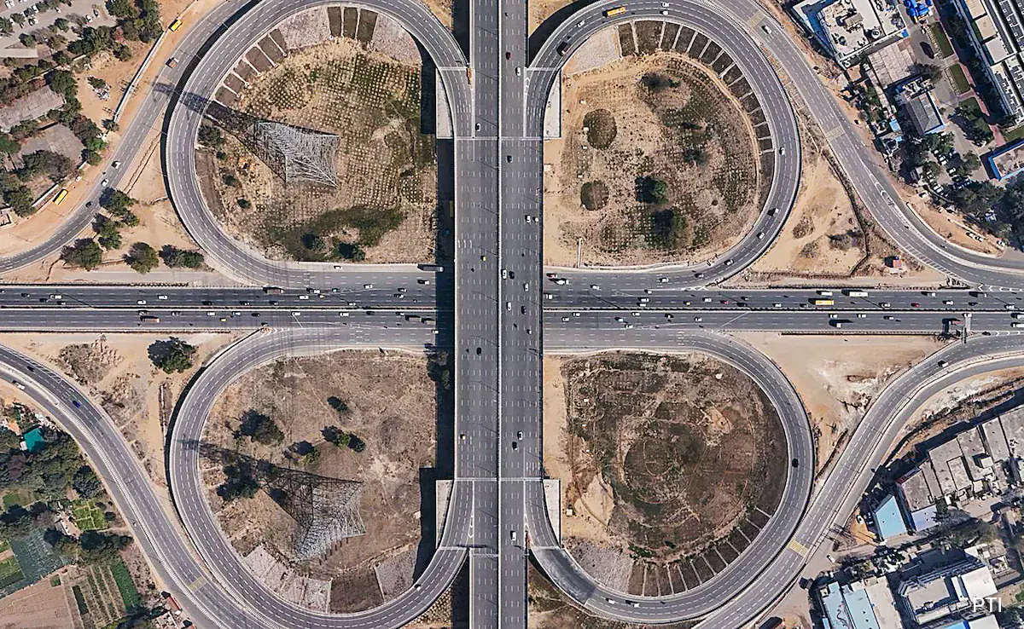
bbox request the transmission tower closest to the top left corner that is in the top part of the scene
[252,117,339,186]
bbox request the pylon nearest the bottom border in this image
[282,481,365,560]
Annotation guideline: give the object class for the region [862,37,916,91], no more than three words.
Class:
building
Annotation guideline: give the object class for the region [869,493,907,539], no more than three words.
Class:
shed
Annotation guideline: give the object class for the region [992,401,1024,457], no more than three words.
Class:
building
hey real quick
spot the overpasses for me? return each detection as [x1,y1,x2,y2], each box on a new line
[436,0,561,629]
